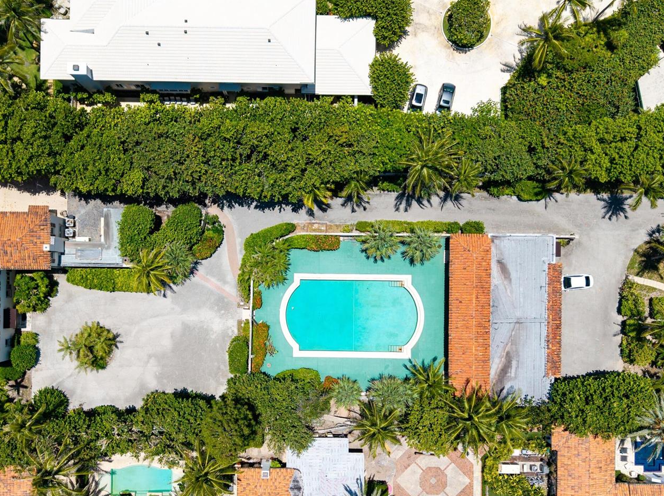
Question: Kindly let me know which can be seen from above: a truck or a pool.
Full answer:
There is a pool in the scene.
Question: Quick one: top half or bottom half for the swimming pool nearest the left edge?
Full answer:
The bottom half of the photo is where the swimming pool nearest the left edge is.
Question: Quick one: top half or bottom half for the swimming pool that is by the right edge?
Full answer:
You can find the swimming pool that is by the right edge in the bottom half.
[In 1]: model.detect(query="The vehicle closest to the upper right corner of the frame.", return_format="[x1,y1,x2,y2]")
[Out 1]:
[436,81,454,111]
